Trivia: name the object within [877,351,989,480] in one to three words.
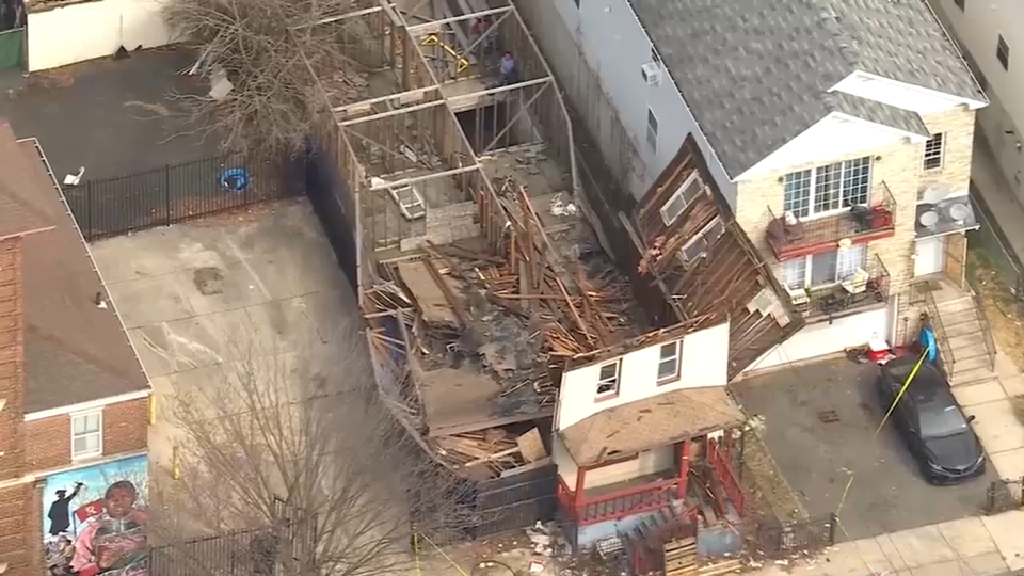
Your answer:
car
